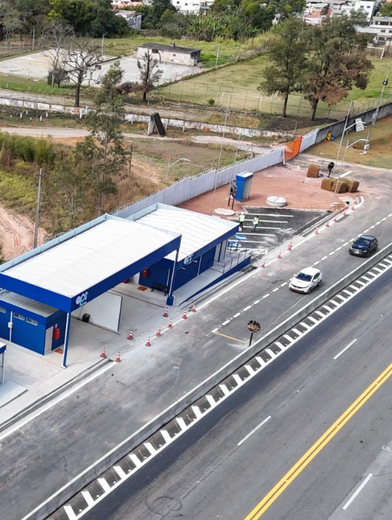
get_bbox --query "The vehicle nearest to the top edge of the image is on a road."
[351,232,382,256]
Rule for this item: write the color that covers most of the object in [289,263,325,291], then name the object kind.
white car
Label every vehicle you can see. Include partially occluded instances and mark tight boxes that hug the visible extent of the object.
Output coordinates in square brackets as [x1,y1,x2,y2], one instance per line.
[351,232,382,256]
[289,263,325,291]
